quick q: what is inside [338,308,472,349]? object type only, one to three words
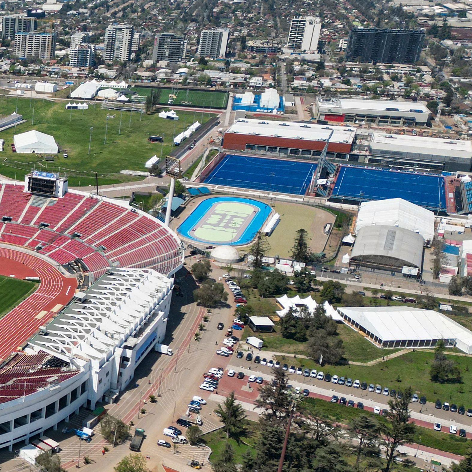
tent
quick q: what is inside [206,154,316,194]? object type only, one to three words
sports field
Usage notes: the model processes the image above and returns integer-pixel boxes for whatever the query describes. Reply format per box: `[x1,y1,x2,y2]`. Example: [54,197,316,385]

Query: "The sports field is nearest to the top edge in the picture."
[105,86,228,106]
